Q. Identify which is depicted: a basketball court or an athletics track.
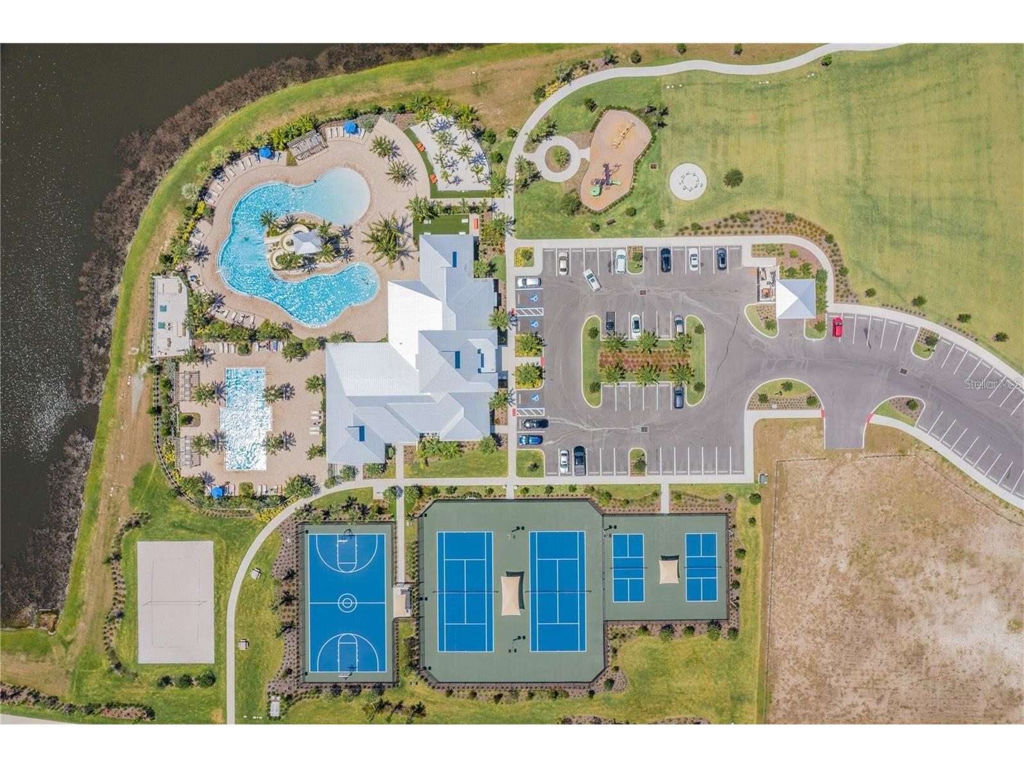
basketball court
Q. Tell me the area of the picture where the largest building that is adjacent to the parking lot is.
center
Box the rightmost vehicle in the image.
[831,316,845,339]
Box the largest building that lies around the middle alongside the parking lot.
[326,235,497,463]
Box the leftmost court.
[138,541,214,664]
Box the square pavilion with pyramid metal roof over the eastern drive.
[771,279,816,319]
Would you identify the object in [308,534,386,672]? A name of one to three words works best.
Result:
basketball court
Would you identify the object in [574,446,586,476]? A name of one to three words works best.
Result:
vehicle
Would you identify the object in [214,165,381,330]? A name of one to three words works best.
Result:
swimming pool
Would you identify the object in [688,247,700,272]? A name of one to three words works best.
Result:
vehicle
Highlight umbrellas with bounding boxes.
[344,121,356,133]
[260,146,272,159]
[212,485,224,498]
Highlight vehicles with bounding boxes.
[559,449,570,474]
[574,446,586,476]
[688,247,700,272]
[631,315,642,339]
[673,315,685,338]
[660,248,672,273]
[605,310,617,337]
[524,418,548,430]
[716,247,728,272]
[519,435,542,446]
[831,316,845,339]
[673,383,685,407]
[558,251,569,275]
[517,276,540,288]
[615,250,627,274]
[584,268,601,292]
